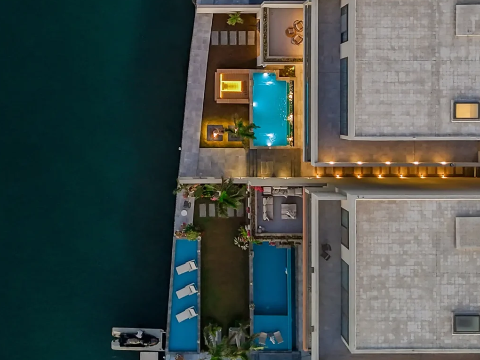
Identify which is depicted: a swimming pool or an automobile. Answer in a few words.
swimming pool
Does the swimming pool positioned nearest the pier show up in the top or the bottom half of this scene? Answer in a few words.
bottom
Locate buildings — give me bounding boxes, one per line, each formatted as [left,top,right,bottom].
[248,179,480,360]
[258,0,480,165]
